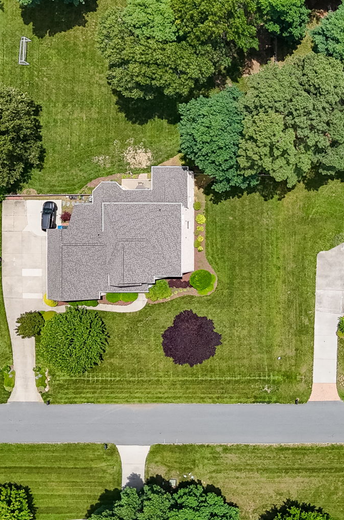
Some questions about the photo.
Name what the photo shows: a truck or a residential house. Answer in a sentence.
Of the two, only a residential house appears.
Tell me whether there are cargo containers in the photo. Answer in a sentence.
No, the scene contains no cargo container.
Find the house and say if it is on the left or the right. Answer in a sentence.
The house sits on the left side.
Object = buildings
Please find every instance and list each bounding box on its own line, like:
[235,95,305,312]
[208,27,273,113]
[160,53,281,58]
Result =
[47,166,193,299]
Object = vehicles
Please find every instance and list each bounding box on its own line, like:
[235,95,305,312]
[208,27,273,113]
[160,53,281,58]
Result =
[37,198,55,231]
